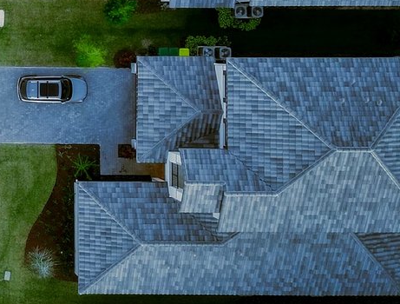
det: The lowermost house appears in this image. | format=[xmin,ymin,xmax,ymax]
[75,56,400,295]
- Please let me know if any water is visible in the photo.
No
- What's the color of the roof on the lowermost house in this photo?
blue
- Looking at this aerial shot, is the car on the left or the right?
left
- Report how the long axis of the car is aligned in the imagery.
from side to side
